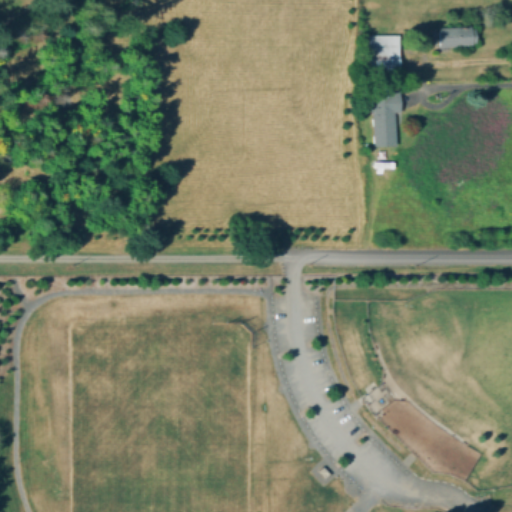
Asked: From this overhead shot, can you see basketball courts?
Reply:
No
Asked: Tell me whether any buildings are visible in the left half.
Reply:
No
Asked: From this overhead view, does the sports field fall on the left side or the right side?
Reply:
left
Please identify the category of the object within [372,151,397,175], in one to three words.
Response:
house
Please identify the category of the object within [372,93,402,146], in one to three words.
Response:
house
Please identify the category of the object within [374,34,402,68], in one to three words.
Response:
barn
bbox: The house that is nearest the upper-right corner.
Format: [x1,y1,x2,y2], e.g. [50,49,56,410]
[440,28,478,50]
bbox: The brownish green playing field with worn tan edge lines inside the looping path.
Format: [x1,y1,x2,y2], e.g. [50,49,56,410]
[64,315,260,512]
